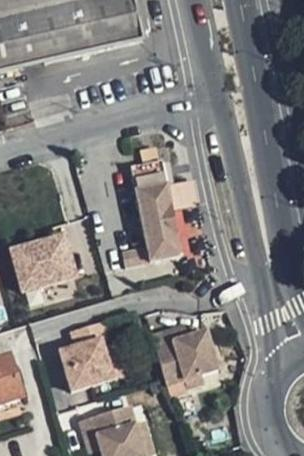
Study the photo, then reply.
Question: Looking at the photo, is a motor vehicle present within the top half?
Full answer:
Yes, the scene does show a motor vehicle within the top half.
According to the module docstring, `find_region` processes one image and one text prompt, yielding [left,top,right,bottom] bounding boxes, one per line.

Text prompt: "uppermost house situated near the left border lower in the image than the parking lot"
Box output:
[10,232,84,309]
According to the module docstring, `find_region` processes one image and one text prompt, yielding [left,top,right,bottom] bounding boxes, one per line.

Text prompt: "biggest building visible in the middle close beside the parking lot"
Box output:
[123,146,200,268]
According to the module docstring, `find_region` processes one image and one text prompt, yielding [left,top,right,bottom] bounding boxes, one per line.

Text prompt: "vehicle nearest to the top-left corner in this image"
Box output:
[0,88,22,101]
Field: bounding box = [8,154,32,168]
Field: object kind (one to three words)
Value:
vehicle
